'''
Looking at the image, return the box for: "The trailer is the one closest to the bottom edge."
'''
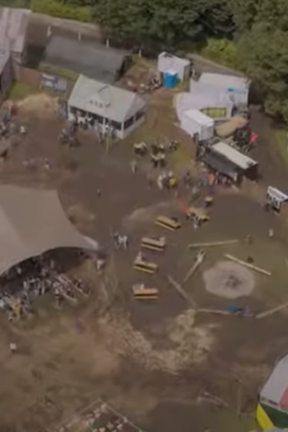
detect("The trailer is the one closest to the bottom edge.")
[196,139,260,190]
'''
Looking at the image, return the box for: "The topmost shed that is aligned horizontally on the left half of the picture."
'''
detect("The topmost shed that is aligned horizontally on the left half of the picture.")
[39,33,135,84]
